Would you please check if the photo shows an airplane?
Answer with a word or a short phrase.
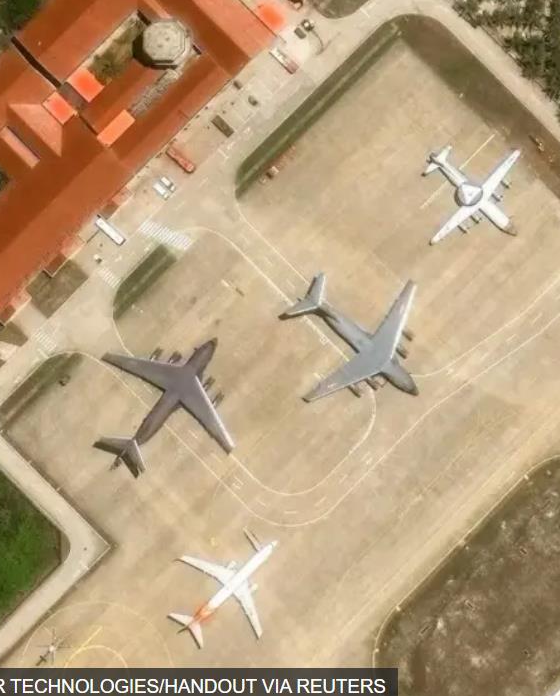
Yes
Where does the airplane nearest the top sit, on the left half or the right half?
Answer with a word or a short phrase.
right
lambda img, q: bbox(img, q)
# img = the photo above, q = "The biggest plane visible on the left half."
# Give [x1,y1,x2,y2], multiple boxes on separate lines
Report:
[95,338,229,479]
